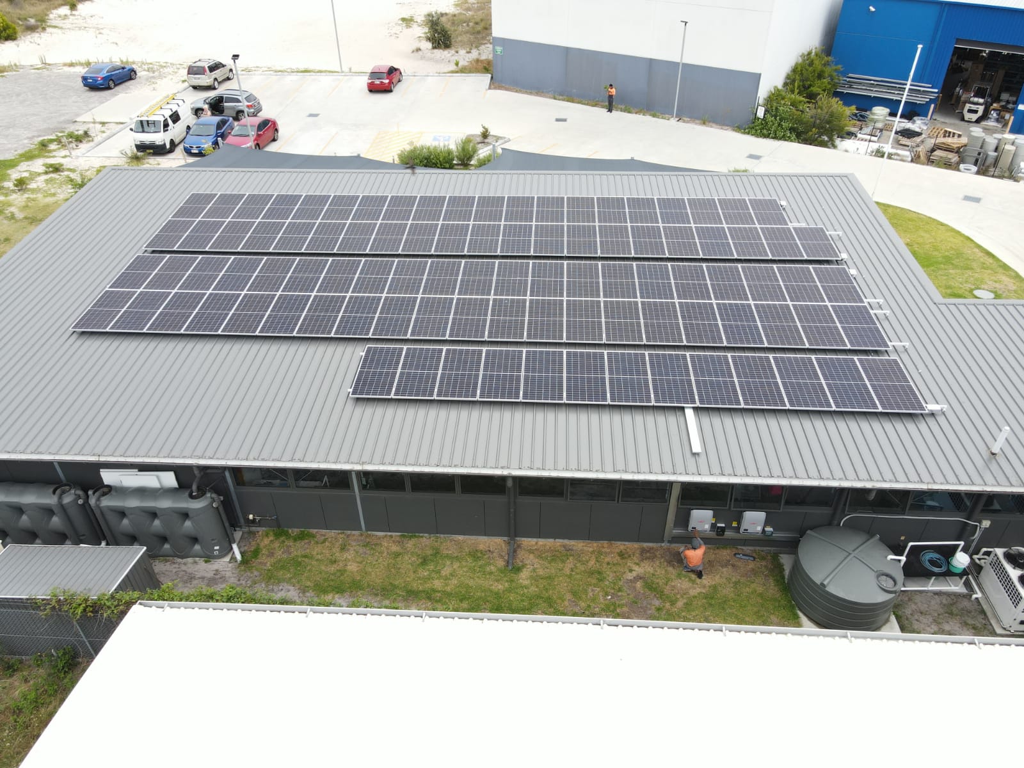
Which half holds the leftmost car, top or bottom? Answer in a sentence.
The top half of the photo is where the leftmost car is.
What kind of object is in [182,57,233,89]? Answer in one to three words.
car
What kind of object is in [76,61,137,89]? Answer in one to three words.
car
